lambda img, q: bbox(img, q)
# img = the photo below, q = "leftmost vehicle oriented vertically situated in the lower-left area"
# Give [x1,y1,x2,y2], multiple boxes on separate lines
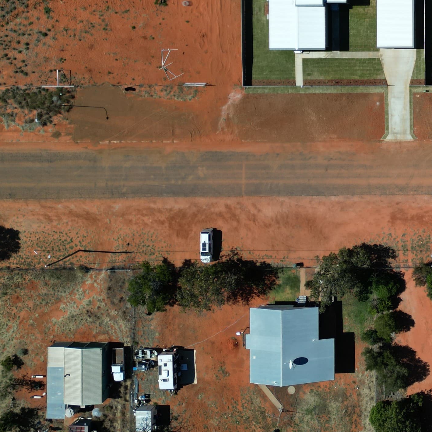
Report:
[108,349,125,384]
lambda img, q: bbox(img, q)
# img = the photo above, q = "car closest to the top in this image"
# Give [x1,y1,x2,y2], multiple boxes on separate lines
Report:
[198,229,214,263]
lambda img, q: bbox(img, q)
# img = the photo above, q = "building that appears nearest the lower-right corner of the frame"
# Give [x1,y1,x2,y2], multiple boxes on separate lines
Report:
[246,296,336,387]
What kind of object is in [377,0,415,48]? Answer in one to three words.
building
